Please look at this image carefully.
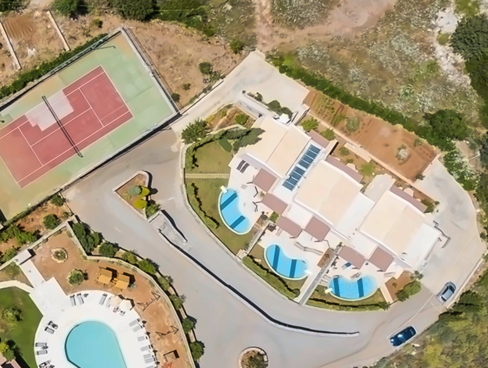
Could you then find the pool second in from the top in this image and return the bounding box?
[264,243,309,281]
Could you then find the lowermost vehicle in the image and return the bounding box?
[392,326,419,346]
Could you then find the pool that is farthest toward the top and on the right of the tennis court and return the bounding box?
[216,187,252,236]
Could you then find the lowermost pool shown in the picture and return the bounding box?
[63,318,129,368]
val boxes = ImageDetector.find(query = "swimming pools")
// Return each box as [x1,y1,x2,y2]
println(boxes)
[216,187,252,236]
[328,274,378,301]
[63,318,129,368]
[264,243,309,281]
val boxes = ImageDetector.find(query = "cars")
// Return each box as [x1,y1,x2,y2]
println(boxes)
[438,280,459,302]
[392,326,419,346]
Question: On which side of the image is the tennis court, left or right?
left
